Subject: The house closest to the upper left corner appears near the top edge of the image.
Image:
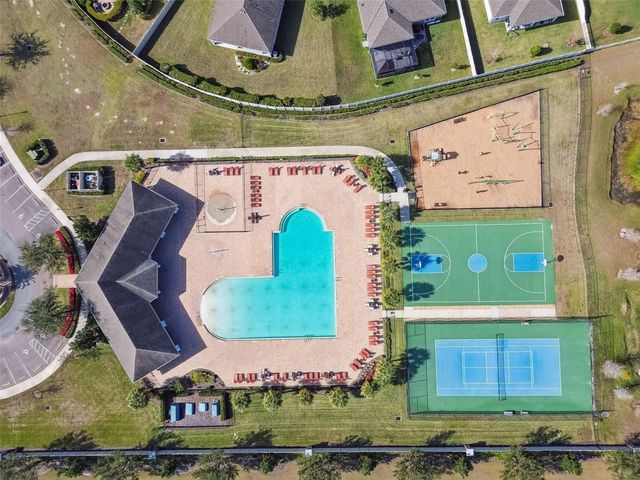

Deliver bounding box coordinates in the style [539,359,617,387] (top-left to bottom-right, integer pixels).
[208,0,287,59]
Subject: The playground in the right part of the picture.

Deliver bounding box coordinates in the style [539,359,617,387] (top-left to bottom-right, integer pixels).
[410,91,542,209]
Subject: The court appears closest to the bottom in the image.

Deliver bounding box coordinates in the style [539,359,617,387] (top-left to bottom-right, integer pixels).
[406,321,592,412]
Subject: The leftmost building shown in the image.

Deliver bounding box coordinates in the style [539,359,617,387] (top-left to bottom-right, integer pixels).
[75,180,182,382]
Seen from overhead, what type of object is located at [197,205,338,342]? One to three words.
swimming pool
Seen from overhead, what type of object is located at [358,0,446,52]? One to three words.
house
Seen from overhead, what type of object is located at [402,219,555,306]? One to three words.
basketball court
